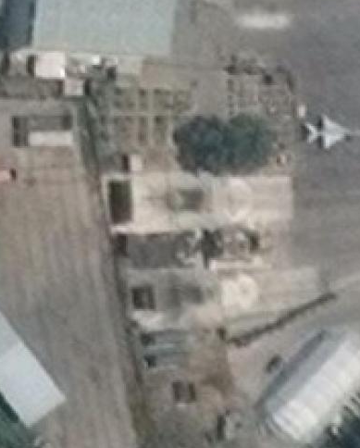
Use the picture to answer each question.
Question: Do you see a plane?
Yes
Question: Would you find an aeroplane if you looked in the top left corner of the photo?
No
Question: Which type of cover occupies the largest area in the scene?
paved ground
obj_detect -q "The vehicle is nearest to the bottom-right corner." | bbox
[267,355,284,371]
